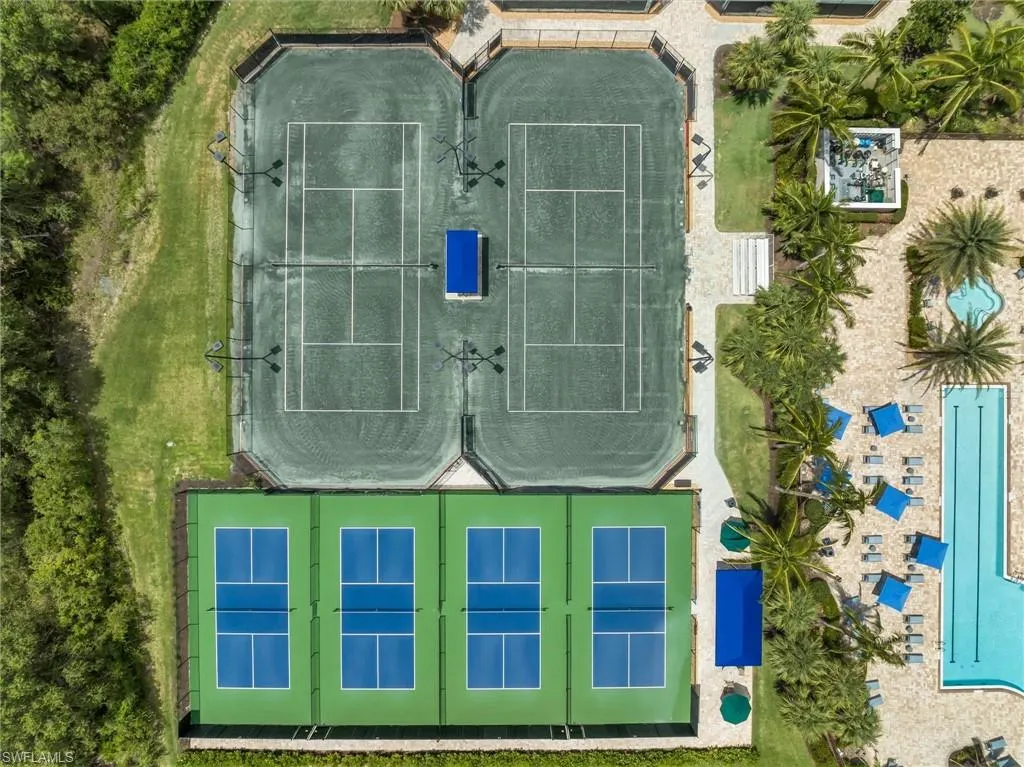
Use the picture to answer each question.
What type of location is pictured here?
sports ground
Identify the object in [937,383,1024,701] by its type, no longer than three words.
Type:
swimming pool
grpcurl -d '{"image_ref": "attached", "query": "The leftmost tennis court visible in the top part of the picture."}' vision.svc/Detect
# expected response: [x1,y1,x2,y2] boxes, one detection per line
[231,47,464,489]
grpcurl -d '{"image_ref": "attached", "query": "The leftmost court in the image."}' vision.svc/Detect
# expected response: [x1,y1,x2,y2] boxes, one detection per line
[187,492,313,725]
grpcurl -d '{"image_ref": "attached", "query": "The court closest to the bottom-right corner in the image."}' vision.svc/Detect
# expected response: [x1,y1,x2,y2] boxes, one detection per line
[567,492,691,725]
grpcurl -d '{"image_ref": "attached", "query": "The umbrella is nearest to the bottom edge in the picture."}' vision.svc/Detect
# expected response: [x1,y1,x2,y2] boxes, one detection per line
[720,692,751,725]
